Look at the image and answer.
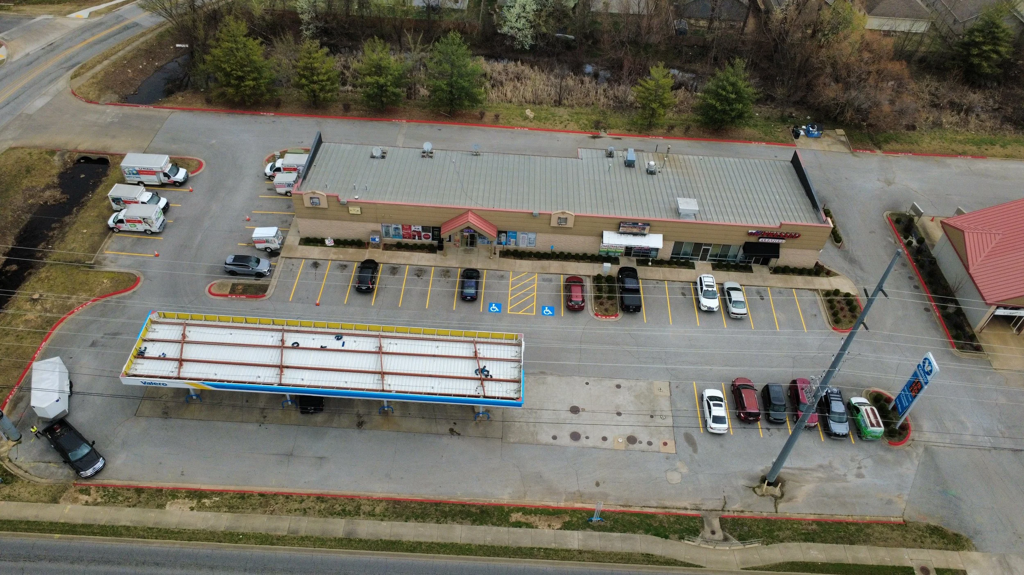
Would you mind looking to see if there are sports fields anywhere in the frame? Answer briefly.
No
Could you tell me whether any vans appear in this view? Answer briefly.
Yes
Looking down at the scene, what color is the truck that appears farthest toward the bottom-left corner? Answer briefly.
black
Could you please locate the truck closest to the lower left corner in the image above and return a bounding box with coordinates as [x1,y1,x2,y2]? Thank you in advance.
[40,419,108,478]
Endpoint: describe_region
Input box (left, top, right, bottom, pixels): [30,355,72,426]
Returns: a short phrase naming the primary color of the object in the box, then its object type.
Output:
white trailer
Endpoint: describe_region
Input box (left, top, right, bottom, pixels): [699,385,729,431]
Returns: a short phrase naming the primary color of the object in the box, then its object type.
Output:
white car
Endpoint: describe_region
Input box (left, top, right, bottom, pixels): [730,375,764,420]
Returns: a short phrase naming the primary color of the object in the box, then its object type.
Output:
red car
